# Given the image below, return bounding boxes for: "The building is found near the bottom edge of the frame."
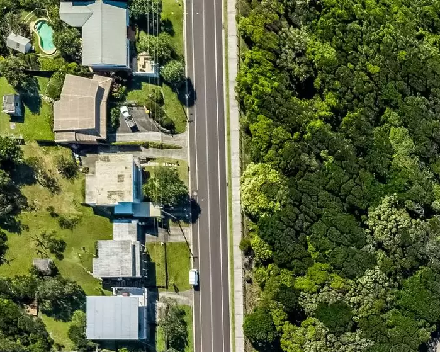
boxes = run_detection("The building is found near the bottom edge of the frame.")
[86,287,153,340]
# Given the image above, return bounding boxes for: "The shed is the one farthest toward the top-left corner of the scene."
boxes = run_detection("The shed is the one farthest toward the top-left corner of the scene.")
[7,34,35,56]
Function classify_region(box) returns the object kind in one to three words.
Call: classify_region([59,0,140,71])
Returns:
house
